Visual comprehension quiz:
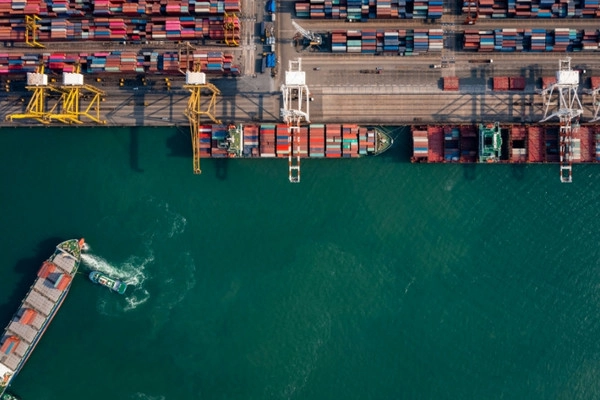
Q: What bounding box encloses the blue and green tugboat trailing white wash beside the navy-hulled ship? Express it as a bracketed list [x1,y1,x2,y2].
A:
[90,271,128,295]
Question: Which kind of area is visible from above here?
port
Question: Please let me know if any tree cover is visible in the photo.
No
